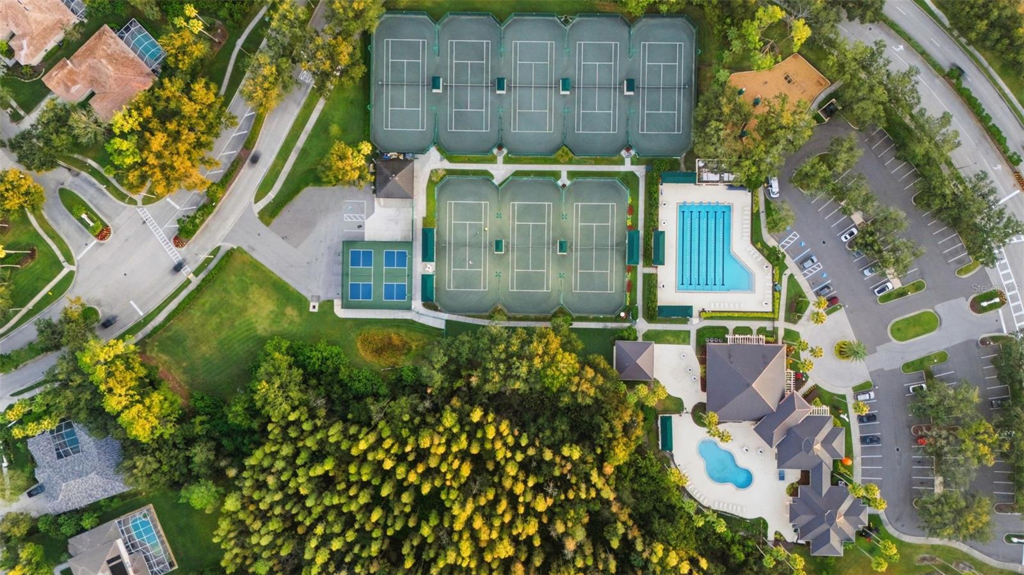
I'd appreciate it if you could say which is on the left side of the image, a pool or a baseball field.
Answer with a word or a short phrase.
pool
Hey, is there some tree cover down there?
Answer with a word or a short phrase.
Yes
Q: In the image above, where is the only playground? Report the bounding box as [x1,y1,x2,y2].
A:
[728,53,830,146]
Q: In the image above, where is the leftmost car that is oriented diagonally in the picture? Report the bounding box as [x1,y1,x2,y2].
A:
[25,482,45,497]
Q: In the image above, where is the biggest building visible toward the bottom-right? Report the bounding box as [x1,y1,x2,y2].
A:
[704,343,868,556]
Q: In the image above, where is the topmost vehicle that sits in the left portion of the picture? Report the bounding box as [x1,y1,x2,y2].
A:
[248,148,262,166]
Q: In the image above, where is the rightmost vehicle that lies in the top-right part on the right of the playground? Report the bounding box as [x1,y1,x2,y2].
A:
[947,63,965,80]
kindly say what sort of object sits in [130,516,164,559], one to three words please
swimming pool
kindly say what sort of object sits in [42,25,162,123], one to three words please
house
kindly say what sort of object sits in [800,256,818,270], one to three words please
car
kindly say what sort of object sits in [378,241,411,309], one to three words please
sports court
